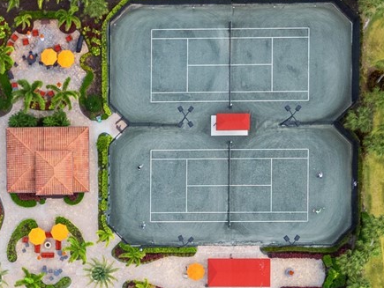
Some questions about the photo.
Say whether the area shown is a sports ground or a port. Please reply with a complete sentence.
This image shows a sports ground.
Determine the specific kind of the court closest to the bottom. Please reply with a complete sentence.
In the photo, the court closest to the bottom shows up as a tennis court.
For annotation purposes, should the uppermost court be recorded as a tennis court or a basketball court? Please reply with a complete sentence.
The uppermost court can be classified as a tennis court.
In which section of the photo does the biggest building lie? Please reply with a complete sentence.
Look in the left portion of the view to spot the biggest building.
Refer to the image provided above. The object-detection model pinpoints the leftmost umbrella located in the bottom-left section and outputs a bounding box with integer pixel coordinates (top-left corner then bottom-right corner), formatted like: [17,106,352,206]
[29,229,45,245]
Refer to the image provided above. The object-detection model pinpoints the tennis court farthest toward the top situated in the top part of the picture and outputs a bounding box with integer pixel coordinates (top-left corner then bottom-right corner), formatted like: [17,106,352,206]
[111,3,352,124]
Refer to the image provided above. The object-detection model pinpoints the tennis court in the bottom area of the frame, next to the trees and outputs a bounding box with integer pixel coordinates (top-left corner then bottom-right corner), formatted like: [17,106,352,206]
[111,123,352,244]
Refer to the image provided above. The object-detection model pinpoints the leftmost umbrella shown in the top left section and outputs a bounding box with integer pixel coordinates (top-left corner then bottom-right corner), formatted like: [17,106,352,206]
[42,49,57,65]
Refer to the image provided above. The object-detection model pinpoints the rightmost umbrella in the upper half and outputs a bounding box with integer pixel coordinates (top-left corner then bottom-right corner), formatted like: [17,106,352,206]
[58,51,73,67]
